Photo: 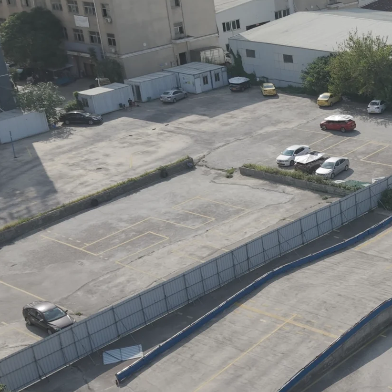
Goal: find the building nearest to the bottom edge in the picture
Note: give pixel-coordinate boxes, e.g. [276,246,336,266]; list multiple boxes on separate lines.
[0,105,52,144]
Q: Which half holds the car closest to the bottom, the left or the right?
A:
left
